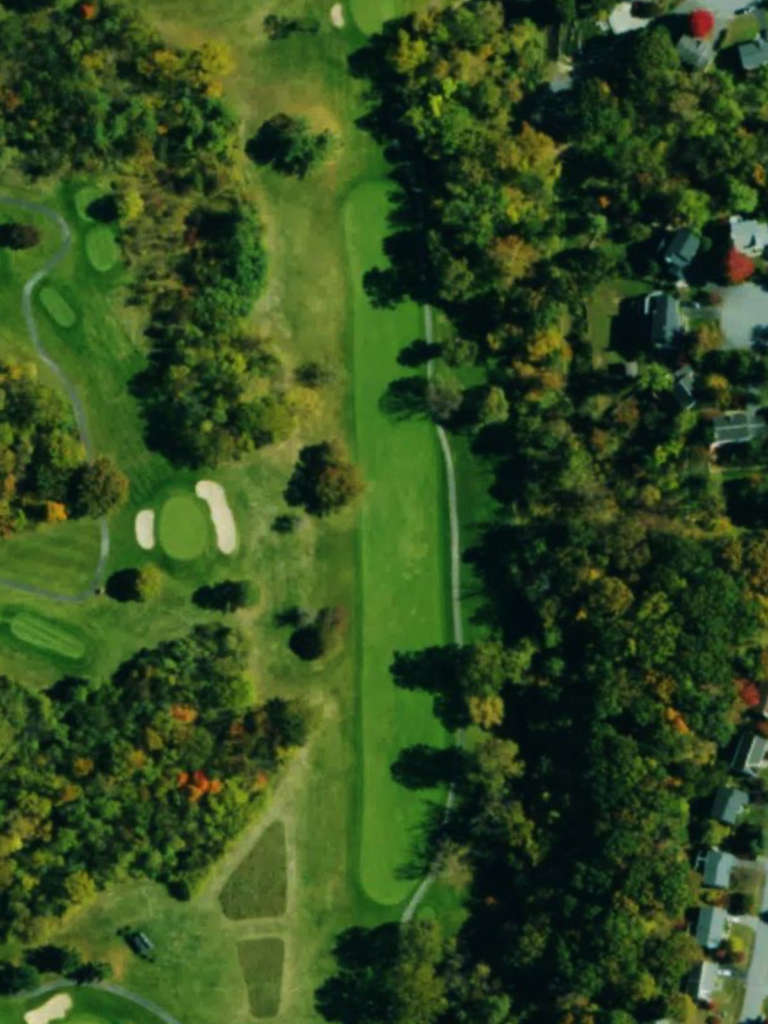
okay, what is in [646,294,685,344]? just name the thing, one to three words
house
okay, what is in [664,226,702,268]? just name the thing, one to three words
house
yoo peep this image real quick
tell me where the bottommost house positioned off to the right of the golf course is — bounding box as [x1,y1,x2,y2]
[687,962,722,1003]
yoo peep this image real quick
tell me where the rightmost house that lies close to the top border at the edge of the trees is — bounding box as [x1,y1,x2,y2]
[738,36,768,68]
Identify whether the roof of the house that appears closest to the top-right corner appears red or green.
green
